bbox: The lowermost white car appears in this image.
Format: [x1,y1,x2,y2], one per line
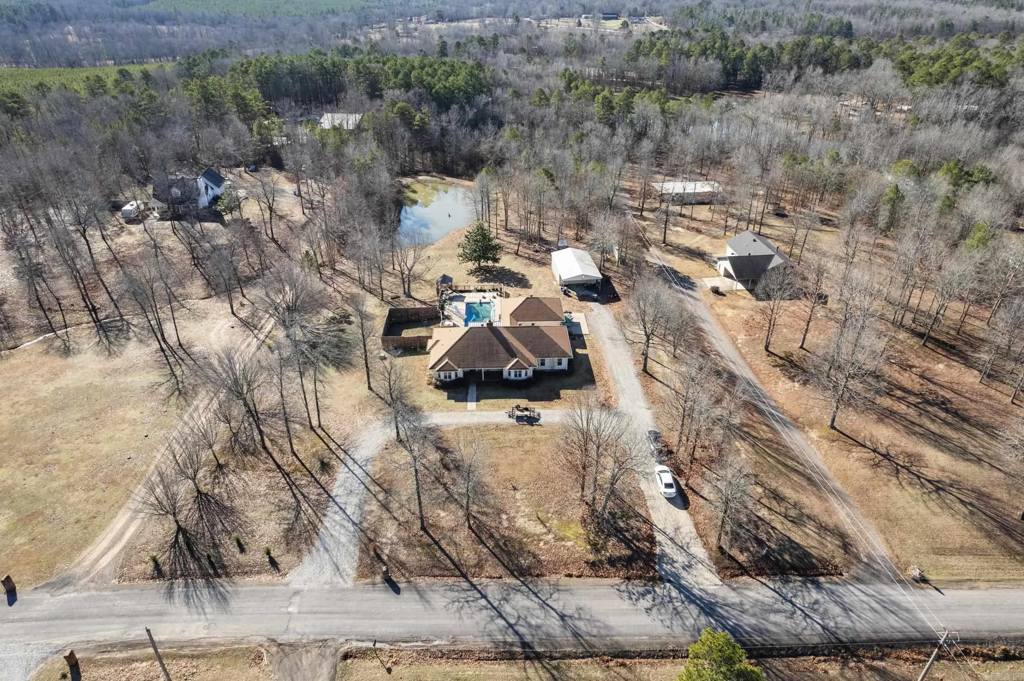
[656,465,676,494]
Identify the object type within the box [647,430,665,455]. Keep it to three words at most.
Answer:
car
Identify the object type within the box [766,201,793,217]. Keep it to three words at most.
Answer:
shed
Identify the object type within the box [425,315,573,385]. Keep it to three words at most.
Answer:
house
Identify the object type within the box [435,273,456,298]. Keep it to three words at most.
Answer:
gazebo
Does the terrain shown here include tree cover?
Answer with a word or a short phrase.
Yes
